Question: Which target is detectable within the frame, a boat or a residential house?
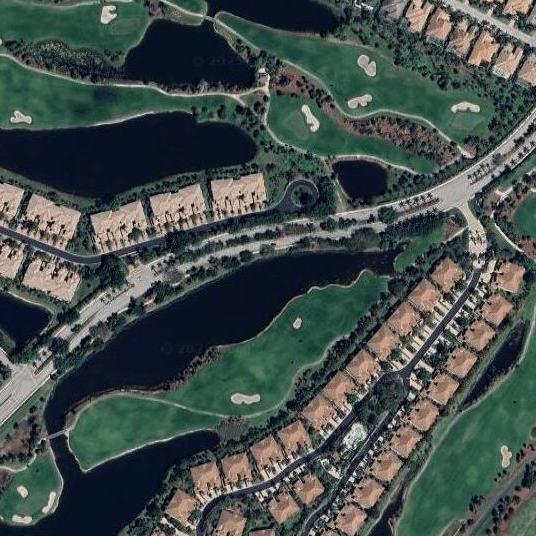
residential house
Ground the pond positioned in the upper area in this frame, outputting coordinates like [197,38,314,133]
[332,159,389,198]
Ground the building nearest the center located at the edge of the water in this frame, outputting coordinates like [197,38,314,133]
[209,171,268,219]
